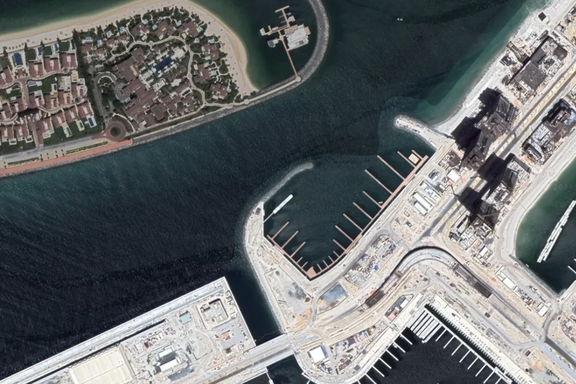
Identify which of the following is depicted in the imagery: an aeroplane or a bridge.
bridge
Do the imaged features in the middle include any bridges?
No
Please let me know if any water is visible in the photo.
Yes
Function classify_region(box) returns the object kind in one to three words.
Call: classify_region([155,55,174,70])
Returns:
swimming pool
